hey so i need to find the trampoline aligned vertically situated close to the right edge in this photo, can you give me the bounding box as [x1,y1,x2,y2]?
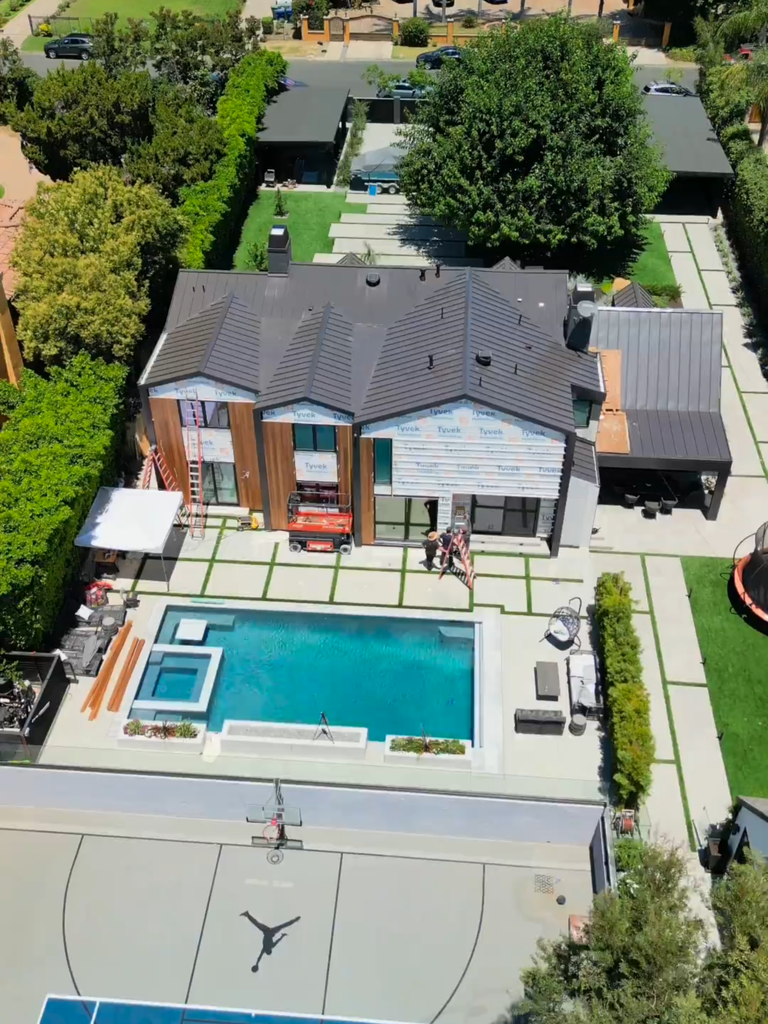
[728,518,768,609]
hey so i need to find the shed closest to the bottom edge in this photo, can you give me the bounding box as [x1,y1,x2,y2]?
[727,798,768,882]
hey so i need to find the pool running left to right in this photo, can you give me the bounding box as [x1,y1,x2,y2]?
[96,597,507,765]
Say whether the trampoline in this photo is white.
No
